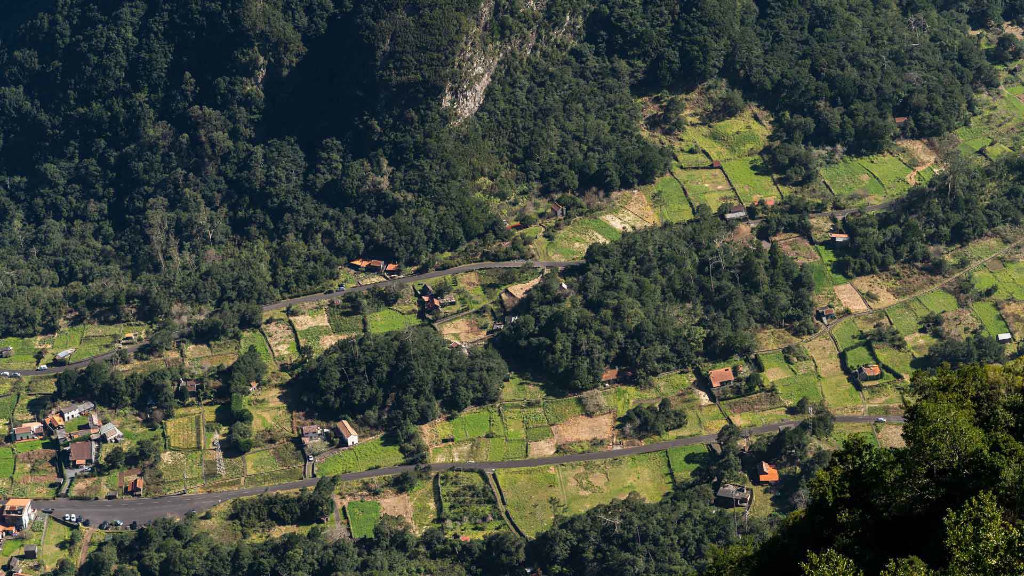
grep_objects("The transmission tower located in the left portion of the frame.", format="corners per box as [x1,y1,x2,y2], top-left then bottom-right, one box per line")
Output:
[211,432,226,479]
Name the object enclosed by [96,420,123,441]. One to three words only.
house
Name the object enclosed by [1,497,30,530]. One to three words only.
house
